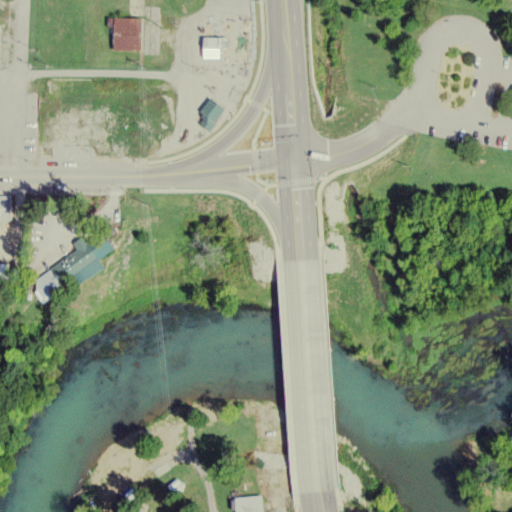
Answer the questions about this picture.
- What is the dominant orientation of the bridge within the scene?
vertically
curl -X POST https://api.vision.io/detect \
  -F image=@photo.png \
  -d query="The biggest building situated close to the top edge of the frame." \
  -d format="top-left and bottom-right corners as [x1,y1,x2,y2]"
[108,18,141,51]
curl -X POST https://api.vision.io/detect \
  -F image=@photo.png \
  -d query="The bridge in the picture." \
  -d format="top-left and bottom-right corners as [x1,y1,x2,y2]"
[276,260,342,493]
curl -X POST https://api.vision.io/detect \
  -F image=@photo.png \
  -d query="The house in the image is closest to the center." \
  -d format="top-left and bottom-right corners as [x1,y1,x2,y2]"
[198,98,224,130]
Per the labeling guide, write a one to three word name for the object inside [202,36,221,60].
house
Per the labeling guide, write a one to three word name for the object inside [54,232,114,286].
building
